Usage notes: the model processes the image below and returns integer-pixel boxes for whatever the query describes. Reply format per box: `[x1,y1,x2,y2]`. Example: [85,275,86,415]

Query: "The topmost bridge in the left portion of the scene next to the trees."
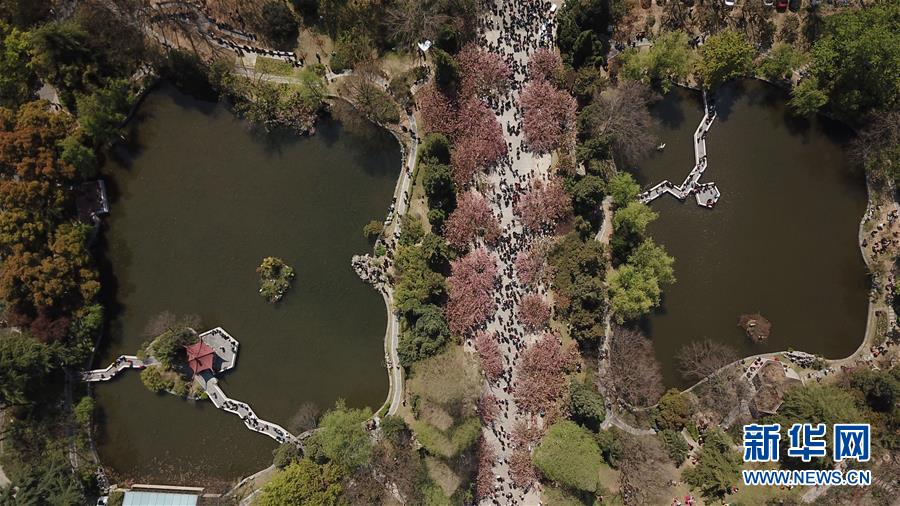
[82,356,148,382]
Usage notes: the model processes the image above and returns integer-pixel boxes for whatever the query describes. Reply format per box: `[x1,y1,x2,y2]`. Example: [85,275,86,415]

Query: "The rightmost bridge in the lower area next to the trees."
[202,376,307,457]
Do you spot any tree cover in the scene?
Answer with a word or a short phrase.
Yes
